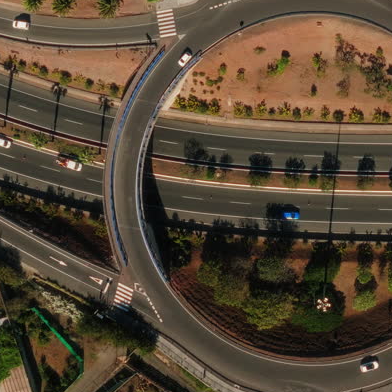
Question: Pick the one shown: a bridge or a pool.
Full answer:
I can see a bridge in this picture.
